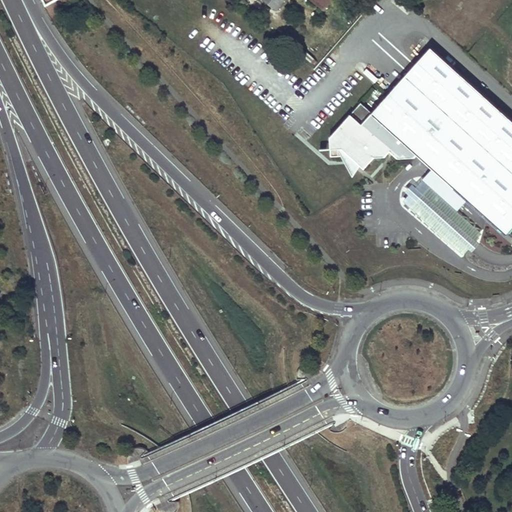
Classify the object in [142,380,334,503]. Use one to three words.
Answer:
bridge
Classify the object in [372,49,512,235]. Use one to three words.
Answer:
building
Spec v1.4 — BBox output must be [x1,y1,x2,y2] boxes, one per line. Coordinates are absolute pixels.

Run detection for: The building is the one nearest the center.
[320,114,388,178]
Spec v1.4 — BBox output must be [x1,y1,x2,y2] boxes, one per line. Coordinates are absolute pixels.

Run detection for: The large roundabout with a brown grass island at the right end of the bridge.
[306,286,512,512]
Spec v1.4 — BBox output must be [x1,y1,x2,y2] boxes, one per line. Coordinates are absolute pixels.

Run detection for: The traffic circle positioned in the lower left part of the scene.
[0,447,170,512]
